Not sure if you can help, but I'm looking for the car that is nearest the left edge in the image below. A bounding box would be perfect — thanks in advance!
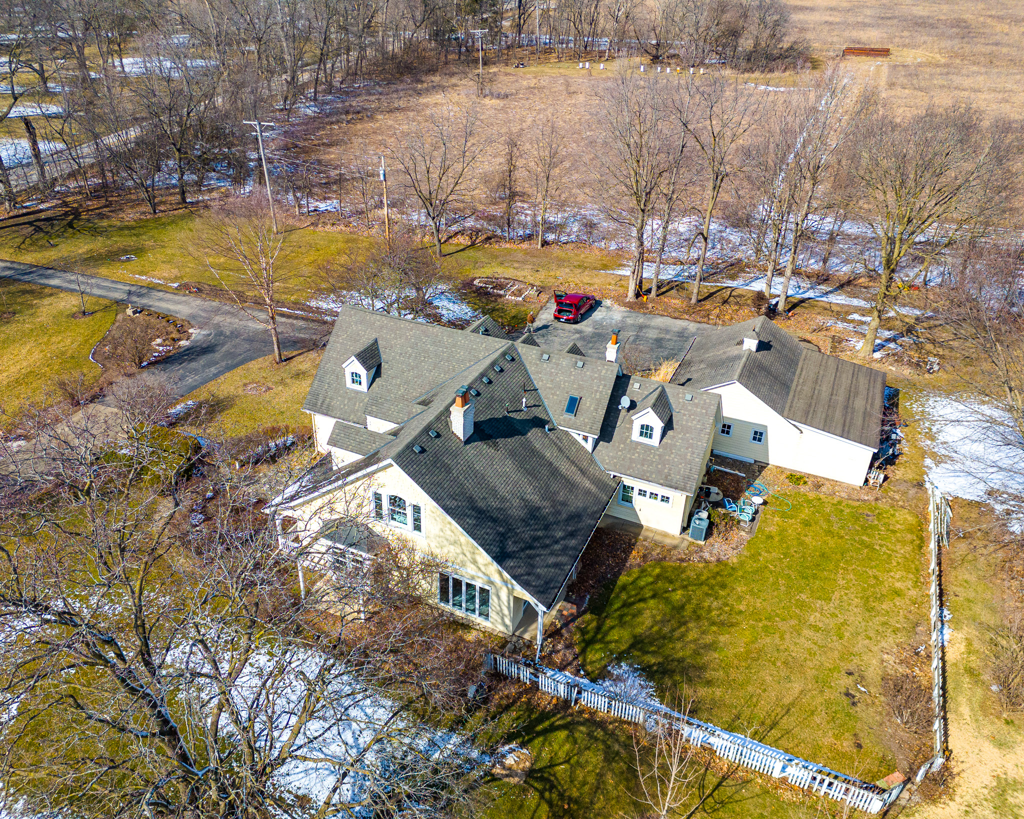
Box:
[554,289,597,323]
